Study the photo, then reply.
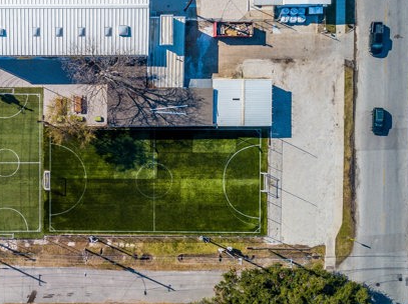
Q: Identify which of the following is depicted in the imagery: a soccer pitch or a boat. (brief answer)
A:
soccer pitch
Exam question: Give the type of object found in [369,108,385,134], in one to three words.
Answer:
car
